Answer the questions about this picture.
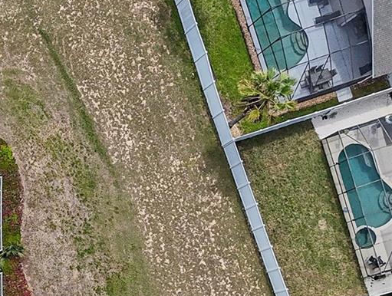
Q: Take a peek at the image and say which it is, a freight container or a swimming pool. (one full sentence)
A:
The image shows a swimming pool.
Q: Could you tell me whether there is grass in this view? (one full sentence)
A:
Yes, there is grass in the image.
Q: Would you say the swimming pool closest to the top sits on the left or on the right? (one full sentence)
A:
You can find the swimming pool closest to the top on the right side of the picture.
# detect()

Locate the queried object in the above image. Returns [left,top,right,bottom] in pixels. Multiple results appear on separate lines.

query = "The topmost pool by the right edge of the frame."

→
[339,141,392,231]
